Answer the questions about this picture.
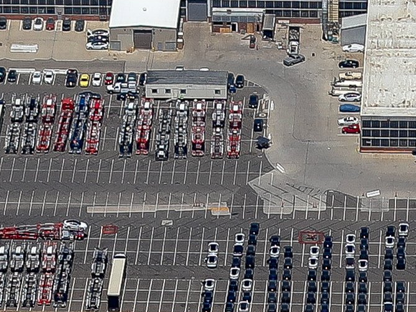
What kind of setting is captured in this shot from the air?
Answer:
parking lot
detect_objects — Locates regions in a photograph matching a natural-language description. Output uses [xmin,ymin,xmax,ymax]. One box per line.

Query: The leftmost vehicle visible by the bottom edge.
[107,252,126,309]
